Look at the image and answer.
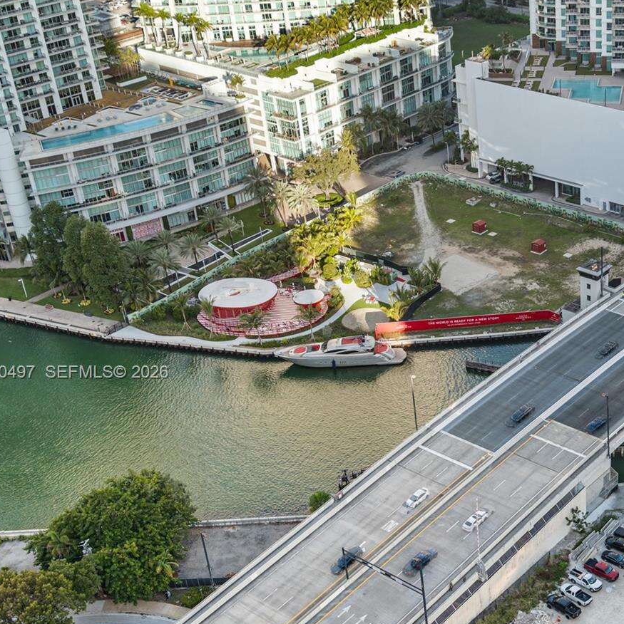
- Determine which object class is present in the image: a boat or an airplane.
boat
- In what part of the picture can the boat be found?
center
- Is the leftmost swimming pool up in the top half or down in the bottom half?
top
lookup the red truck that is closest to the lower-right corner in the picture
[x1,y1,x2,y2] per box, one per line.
[584,558,620,581]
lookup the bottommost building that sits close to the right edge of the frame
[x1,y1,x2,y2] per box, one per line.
[562,255,613,325]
